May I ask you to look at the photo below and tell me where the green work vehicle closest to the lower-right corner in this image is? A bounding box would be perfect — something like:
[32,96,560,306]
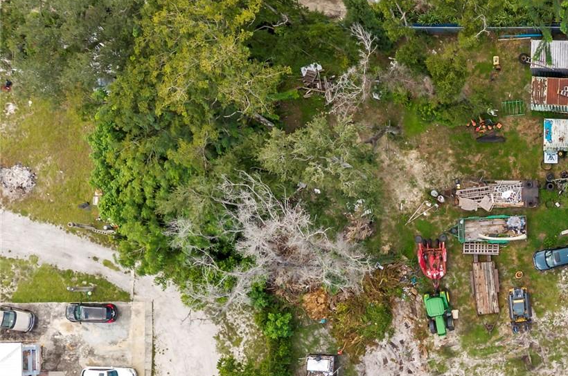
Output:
[424,297,452,340]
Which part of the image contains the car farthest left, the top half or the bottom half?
bottom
